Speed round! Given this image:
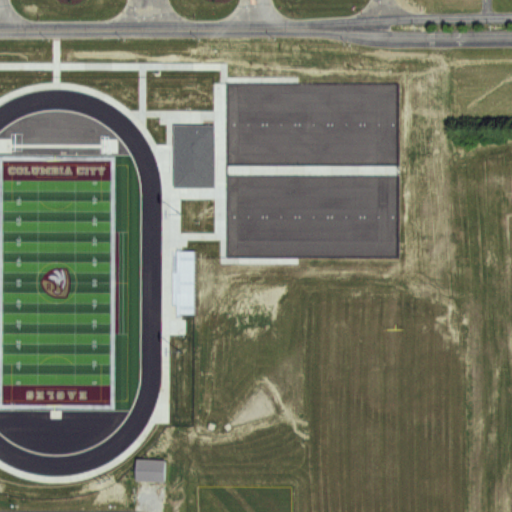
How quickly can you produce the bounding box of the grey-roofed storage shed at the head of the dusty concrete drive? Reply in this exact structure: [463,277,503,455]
[134,460,166,483]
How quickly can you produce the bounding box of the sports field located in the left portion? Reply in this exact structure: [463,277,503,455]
[0,156,140,411]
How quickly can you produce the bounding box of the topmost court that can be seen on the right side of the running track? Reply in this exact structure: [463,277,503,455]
[227,84,399,166]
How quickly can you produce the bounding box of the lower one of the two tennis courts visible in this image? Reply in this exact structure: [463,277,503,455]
[227,176,399,258]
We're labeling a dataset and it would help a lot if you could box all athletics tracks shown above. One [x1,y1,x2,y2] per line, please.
[0,91,162,475]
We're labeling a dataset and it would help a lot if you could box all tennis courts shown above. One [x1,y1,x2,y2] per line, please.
[227,176,399,258]
[227,84,399,166]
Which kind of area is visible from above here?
sports ground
